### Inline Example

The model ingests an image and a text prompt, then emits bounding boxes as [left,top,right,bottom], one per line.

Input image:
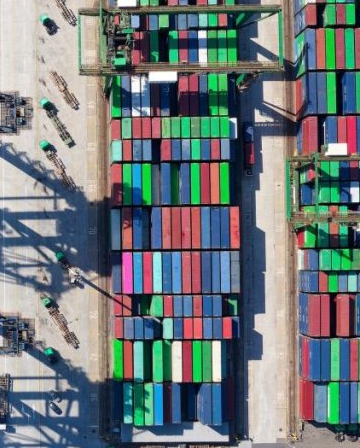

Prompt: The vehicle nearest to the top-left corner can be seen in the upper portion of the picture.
[39,12,57,34]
